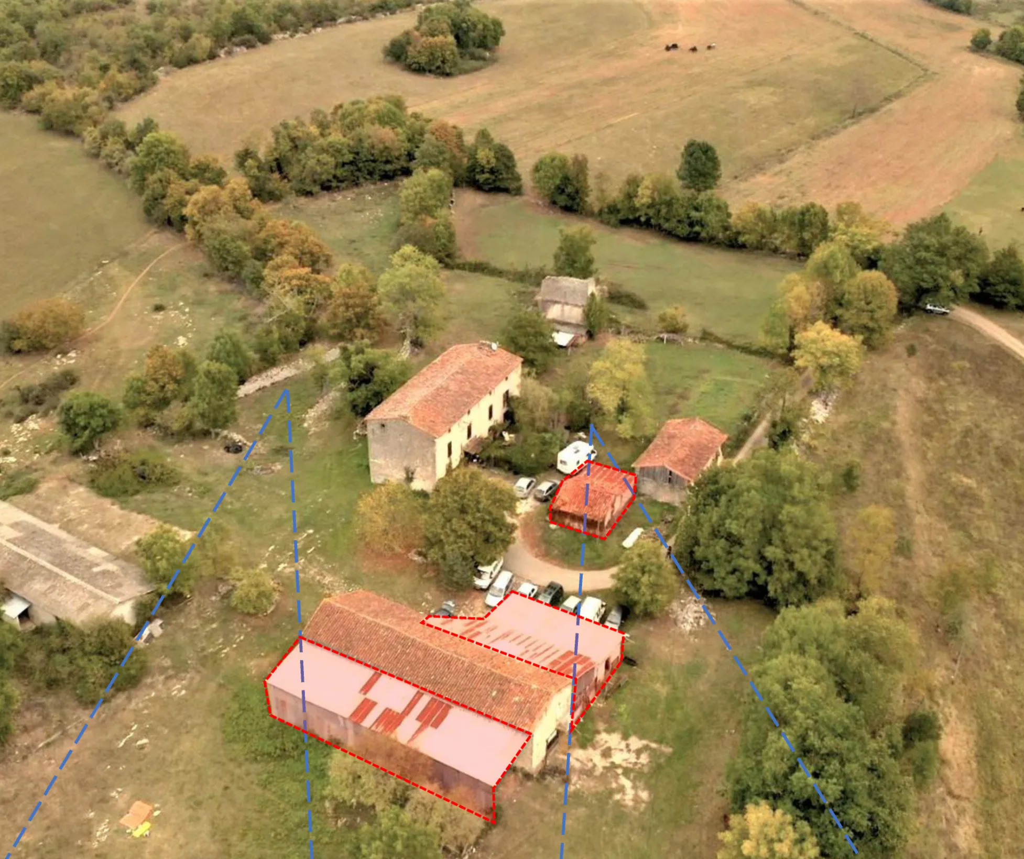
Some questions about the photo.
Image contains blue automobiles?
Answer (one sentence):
No, the picture doesn't show any blue automobile.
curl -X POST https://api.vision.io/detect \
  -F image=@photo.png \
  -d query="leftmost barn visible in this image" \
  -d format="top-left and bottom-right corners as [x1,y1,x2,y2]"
[0,503,159,631]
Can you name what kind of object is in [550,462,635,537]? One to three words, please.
shed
